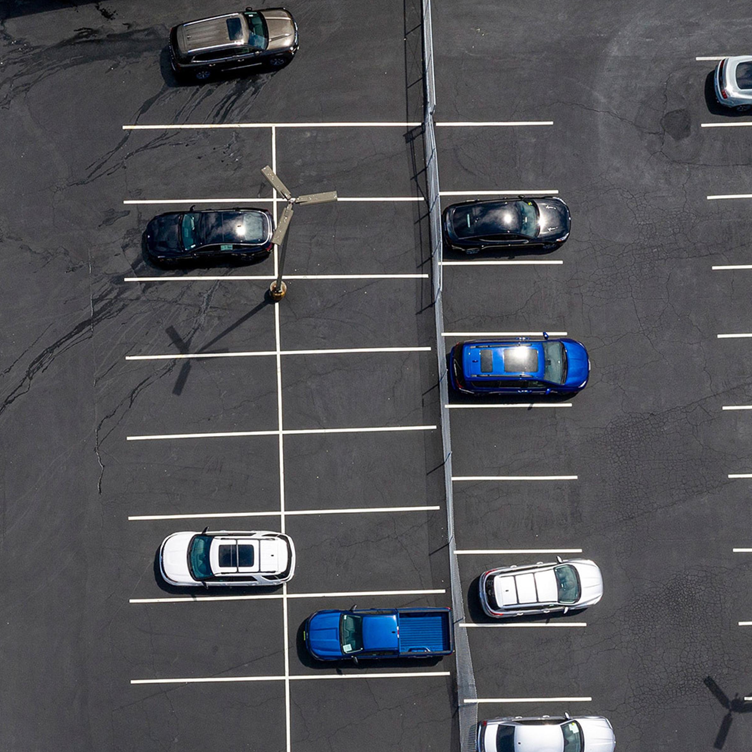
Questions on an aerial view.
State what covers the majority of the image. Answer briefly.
paved ground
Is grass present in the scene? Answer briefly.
No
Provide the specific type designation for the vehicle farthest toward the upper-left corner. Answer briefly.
car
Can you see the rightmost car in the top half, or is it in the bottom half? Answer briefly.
top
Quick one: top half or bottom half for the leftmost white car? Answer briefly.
bottom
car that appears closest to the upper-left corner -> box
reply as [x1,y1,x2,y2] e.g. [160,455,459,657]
[169,5,299,81]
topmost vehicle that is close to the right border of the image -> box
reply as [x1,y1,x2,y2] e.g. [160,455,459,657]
[714,58,752,115]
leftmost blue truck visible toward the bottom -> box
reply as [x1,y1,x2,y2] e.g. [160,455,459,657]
[305,601,455,665]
